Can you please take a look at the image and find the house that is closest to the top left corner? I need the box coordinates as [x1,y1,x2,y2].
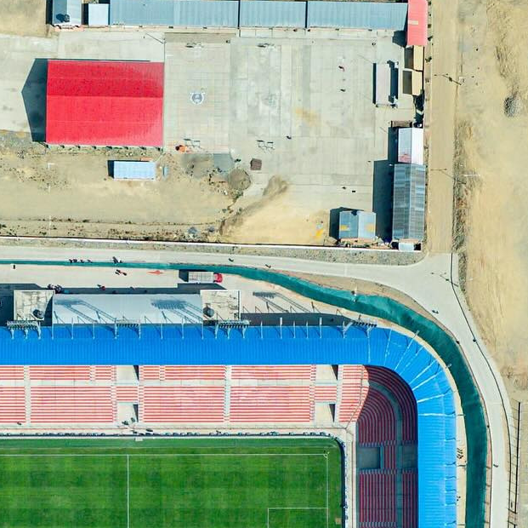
[53,0,81,32]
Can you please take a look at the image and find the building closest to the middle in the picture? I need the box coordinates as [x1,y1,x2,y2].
[338,210,376,243]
